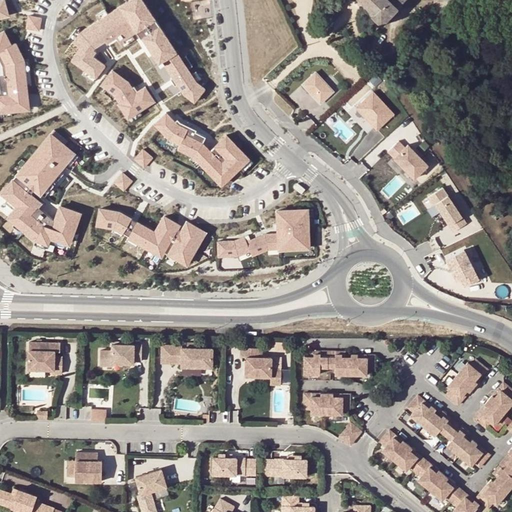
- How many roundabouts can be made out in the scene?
1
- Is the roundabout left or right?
right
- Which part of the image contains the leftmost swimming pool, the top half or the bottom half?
bottom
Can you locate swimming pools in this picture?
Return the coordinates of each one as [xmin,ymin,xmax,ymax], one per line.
[17,385,53,407]
[397,202,420,225]
[496,284,512,299]
[270,386,290,418]
[173,398,202,413]
[326,112,356,144]
[380,174,406,200]
[88,382,114,408]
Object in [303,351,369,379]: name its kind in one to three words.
house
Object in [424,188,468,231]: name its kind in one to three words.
house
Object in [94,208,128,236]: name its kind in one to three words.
building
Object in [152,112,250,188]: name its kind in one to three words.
building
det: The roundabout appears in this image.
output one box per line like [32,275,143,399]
[328,241,412,326]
